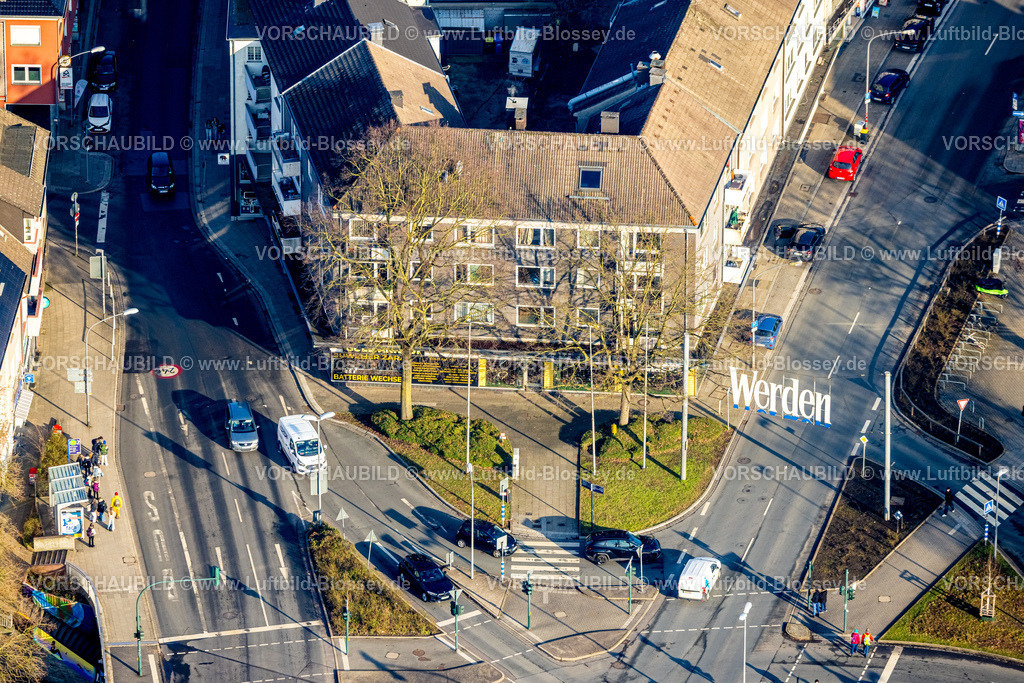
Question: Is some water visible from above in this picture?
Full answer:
No, there's no water in this view.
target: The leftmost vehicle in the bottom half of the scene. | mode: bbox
[225,392,263,450]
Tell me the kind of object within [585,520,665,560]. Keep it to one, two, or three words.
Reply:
car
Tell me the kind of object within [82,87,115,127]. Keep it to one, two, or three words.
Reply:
car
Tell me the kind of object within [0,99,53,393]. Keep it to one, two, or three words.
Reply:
house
